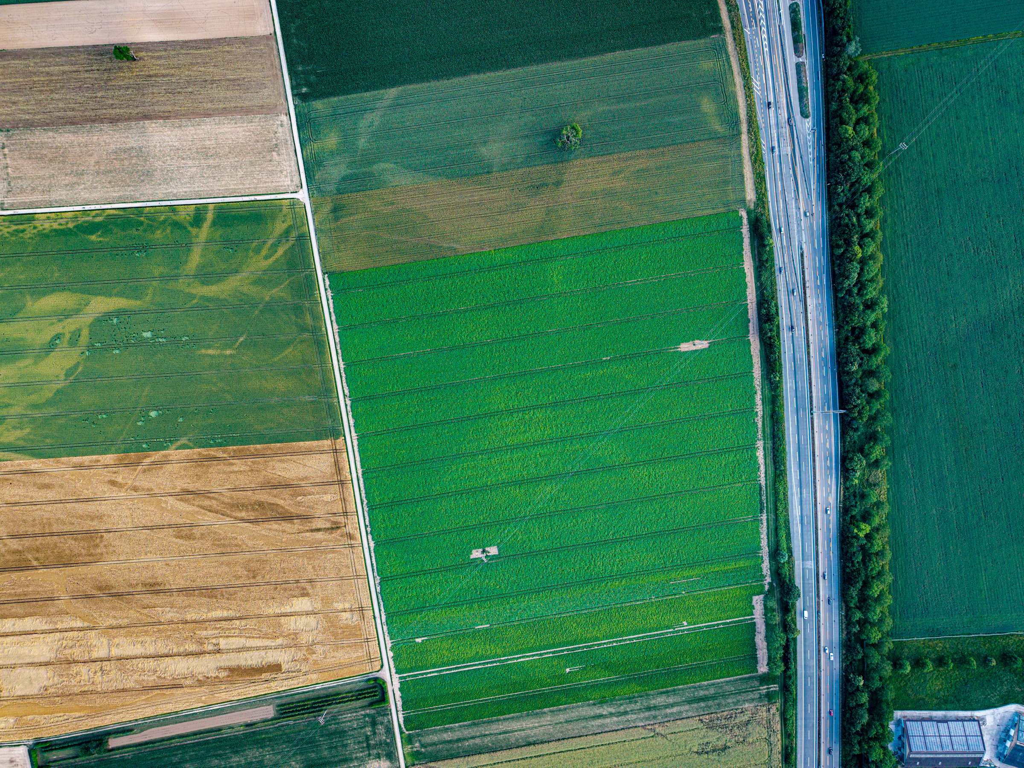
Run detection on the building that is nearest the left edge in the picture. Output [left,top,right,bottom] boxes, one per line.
[900,718,988,768]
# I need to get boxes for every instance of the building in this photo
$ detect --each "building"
[900,718,988,768]
[998,711,1024,768]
